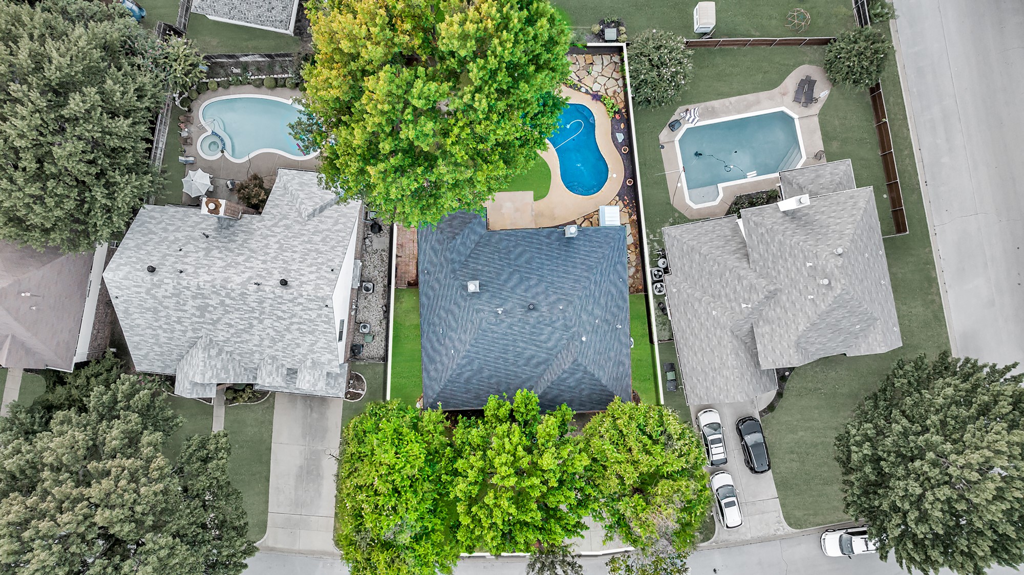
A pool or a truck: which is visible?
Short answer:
pool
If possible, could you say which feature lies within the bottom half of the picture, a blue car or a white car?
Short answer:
white car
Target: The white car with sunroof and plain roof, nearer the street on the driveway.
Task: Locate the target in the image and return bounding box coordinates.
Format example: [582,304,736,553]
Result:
[708,470,742,529]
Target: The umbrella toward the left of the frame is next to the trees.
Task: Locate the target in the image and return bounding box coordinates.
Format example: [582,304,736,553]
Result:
[172,165,203,196]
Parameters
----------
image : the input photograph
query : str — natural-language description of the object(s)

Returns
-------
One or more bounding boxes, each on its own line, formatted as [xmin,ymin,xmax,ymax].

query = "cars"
[735,415,770,475]
[708,470,742,529]
[819,525,885,558]
[695,409,727,467]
